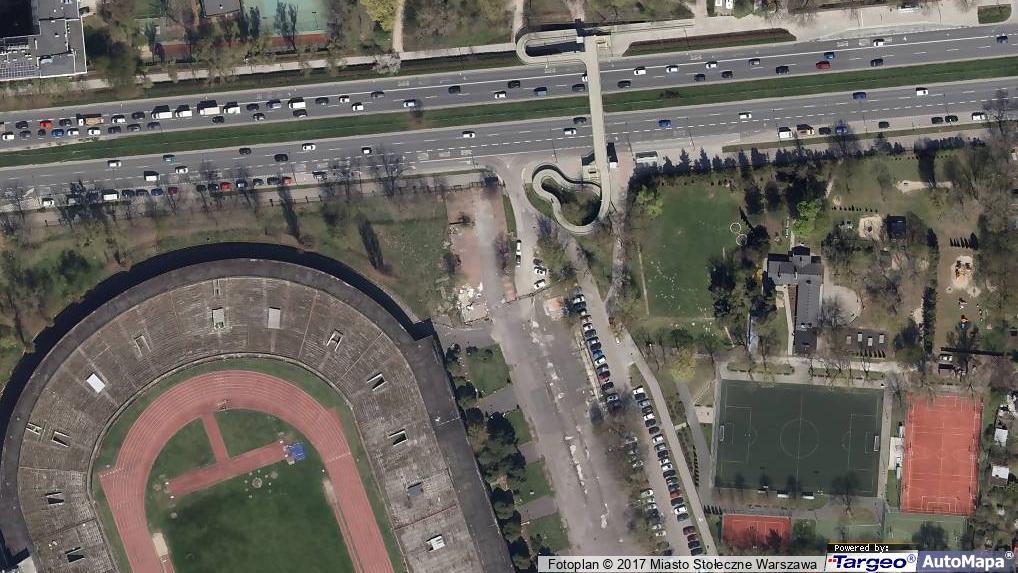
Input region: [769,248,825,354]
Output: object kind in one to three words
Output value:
building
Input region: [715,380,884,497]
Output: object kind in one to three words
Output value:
soccer field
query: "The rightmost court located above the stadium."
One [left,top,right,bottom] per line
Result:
[250,0,330,38]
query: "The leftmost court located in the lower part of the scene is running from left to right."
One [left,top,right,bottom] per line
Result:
[721,513,790,549]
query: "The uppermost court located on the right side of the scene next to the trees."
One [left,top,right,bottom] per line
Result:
[901,393,983,515]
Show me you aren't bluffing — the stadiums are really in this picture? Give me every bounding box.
[0,259,514,573]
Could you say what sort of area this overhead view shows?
sports ground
